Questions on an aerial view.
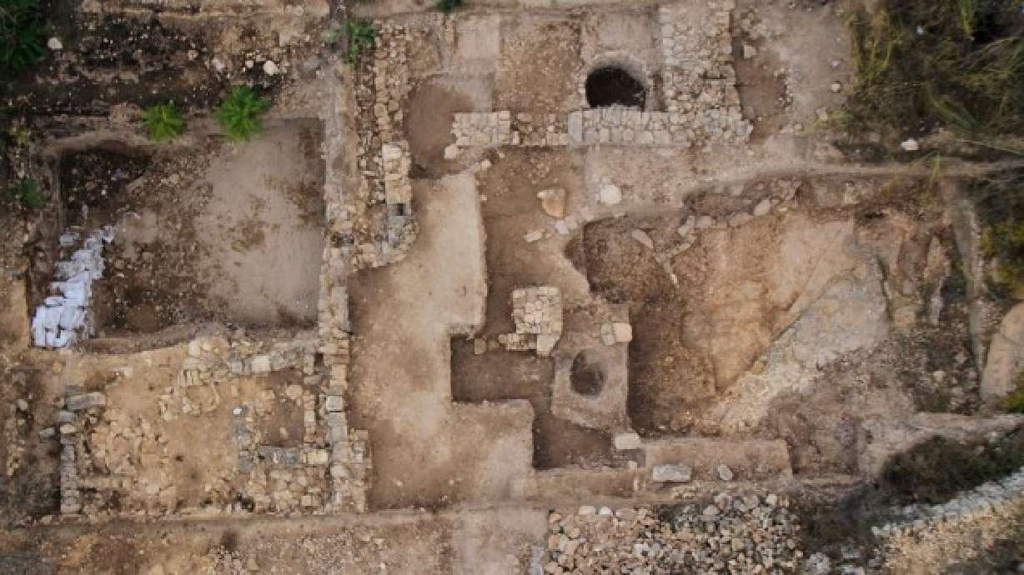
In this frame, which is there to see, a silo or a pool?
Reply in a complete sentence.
The image shows a silo.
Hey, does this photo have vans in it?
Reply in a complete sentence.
No, no van can be seen from above.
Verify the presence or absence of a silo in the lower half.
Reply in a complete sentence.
No, no silo can be made out in the lower half.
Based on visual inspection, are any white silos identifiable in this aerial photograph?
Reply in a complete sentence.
No, the photo shows no white silo.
